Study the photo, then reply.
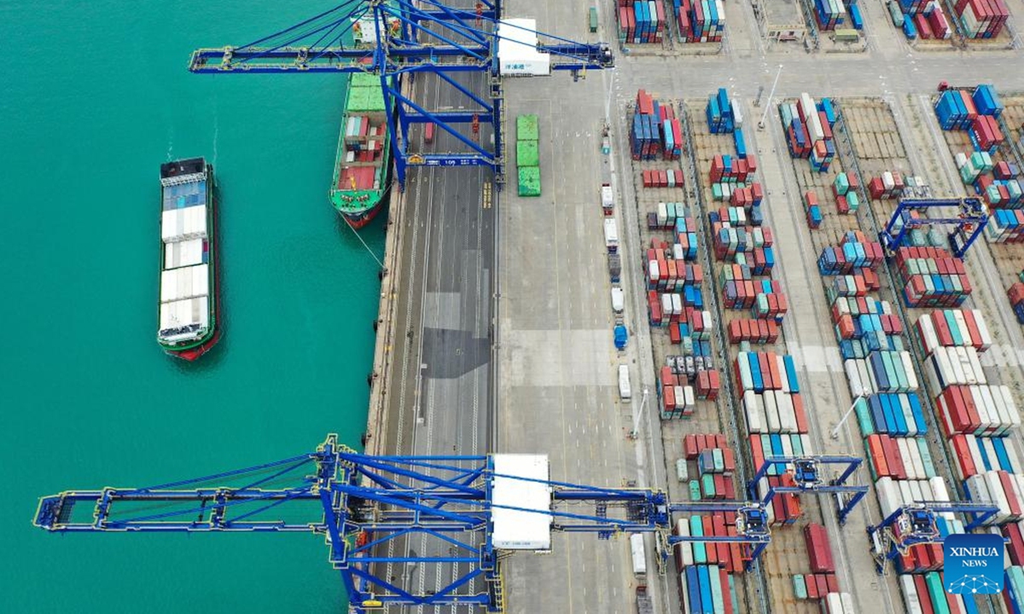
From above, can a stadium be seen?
No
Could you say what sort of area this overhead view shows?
port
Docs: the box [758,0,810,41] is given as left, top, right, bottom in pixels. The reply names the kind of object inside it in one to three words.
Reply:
building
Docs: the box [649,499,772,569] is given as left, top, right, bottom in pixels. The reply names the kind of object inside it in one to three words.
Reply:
container crane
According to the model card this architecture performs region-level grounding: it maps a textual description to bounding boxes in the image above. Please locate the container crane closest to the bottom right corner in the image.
[872,501,1015,570]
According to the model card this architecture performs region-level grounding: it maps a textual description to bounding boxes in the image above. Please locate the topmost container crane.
[409,0,507,36]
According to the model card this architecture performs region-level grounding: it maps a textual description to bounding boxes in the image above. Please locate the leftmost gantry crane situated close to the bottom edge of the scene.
[35,414,671,614]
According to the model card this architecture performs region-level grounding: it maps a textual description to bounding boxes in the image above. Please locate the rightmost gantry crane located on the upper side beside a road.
[879,194,991,260]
